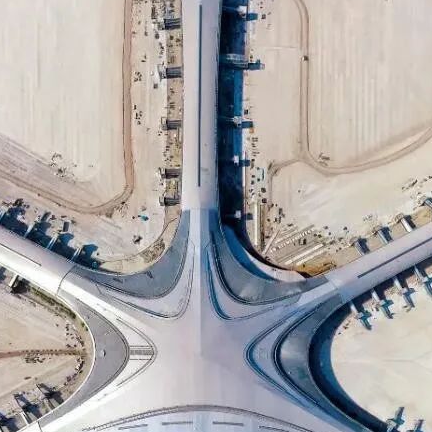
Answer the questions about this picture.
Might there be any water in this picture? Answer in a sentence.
No, no water is visible.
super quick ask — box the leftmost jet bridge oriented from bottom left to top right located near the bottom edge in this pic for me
[384,405,404,432]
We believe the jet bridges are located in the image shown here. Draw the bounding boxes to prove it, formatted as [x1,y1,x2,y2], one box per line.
[162,19,183,36]
[36,382,54,413]
[68,245,84,263]
[219,210,253,219]
[162,169,183,182]
[162,196,182,208]
[384,405,404,432]
[217,155,250,165]
[414,266,432,296]
[373,226,389,242]
[13,392,32,426]
[220,6,258,21]
[162,120,183,134]
[21,212,50,239]
[0,199,21,224]
[45,223,68,251]
[402,417,423,432]
[392,277,415,308]
[217,59,266,71]
[217,117,254,127]
[394,213,413,231]
[349,300,372,329]
[10,275,22,288]
[370,288,392,319]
